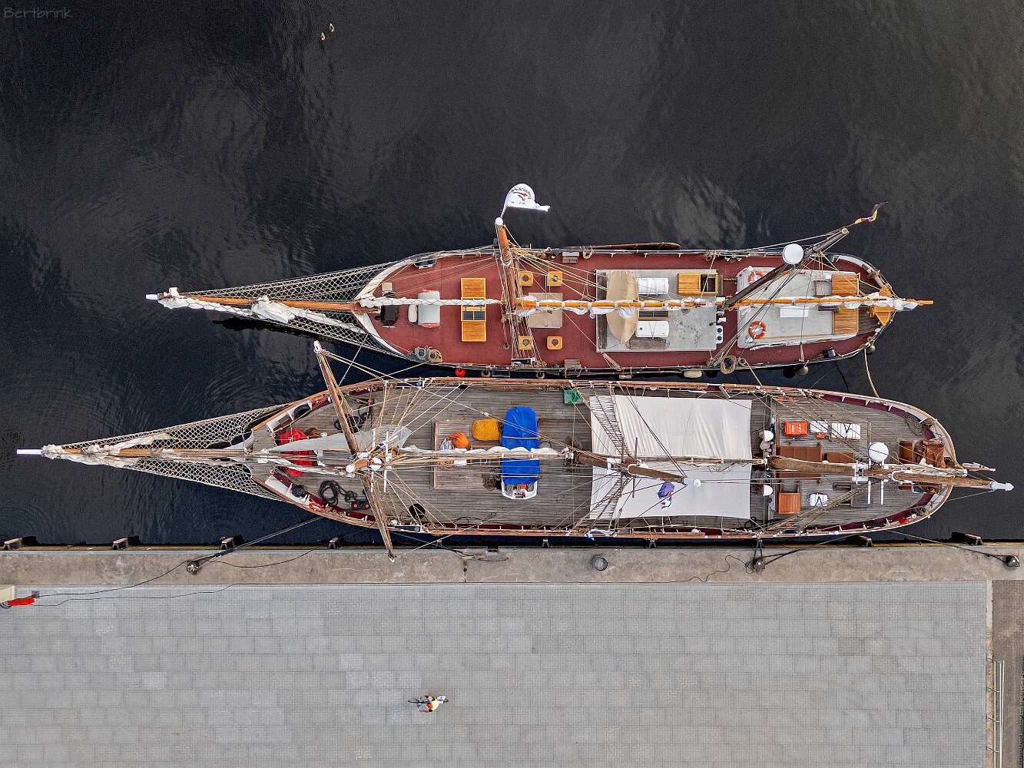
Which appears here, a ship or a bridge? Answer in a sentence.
The image shows a ship.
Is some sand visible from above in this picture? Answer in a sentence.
No, no sand is visible.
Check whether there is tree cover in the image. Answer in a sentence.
No, tree cover can't be seen anywhere here.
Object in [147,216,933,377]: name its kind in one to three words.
ship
